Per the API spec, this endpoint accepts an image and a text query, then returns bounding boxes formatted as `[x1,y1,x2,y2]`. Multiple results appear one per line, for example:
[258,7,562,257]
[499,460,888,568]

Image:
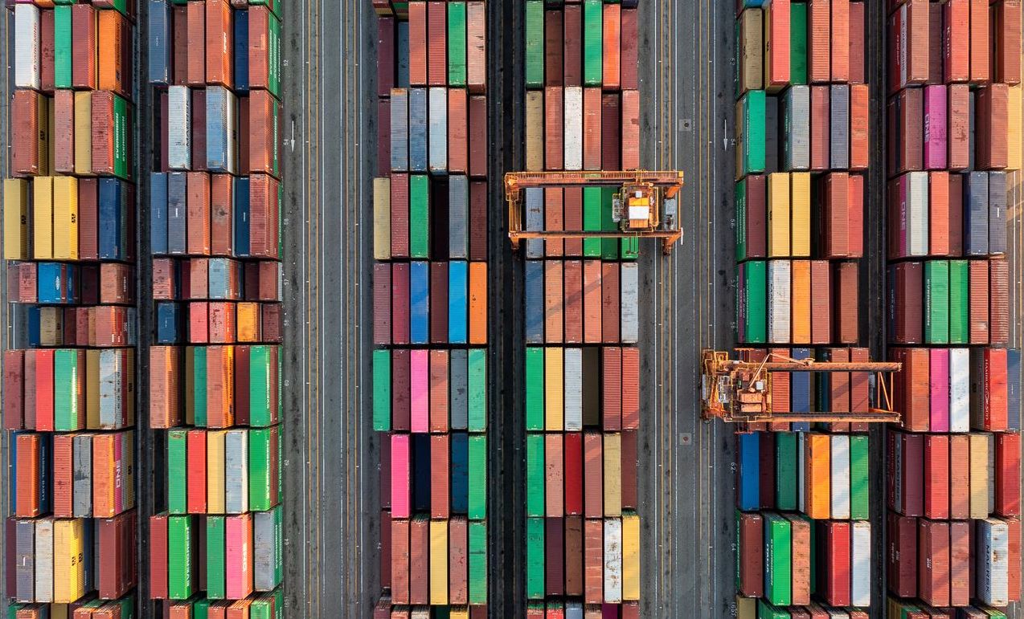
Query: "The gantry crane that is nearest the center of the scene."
[502,167,686,256]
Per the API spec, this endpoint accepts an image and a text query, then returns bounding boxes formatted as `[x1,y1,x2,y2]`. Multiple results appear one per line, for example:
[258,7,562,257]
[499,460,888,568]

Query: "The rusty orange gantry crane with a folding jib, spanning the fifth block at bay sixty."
[698,346,905,432]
